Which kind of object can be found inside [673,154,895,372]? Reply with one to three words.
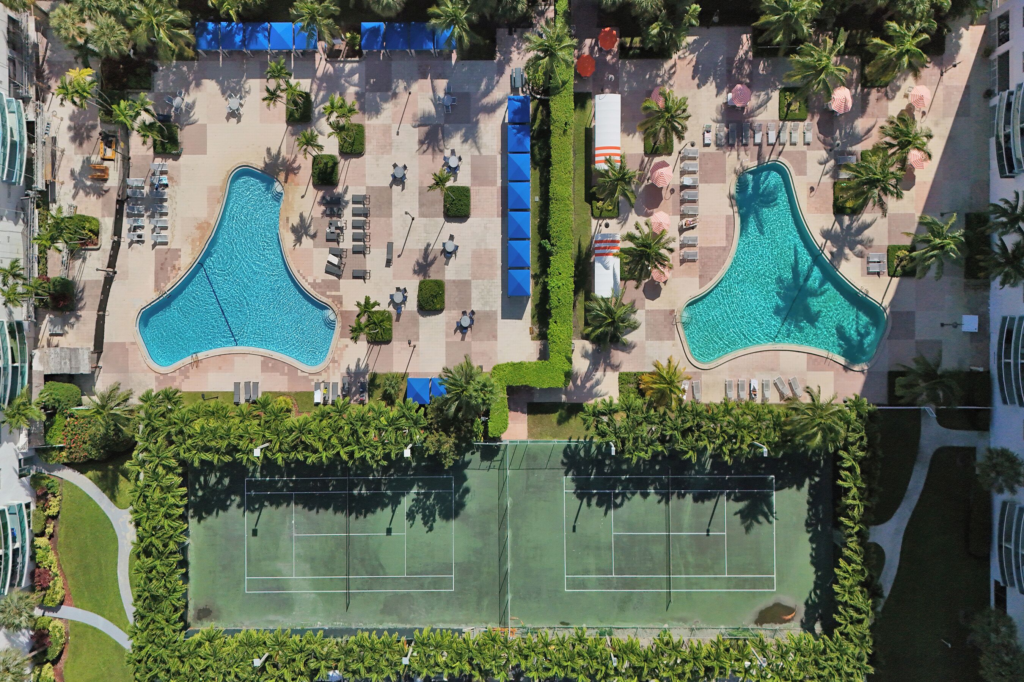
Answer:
swimming pool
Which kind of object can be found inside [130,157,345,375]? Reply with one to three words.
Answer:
swimming pool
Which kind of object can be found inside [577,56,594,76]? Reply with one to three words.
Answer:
umbrella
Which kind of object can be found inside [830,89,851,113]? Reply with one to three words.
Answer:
umbrella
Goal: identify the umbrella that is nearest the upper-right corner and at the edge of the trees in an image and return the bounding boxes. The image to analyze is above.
[907,85,929,109]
